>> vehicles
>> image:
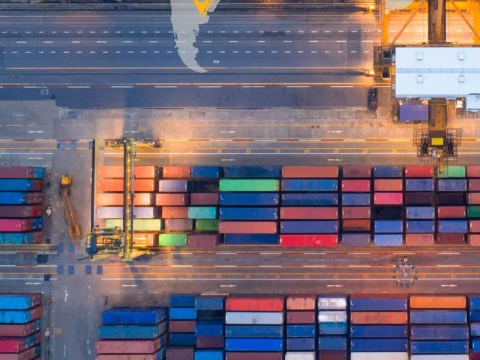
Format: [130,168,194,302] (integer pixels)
[369,87,377,110]
[56,175,81,242]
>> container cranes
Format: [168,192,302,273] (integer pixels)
[88,132,157,264]
[365,0,480,168]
